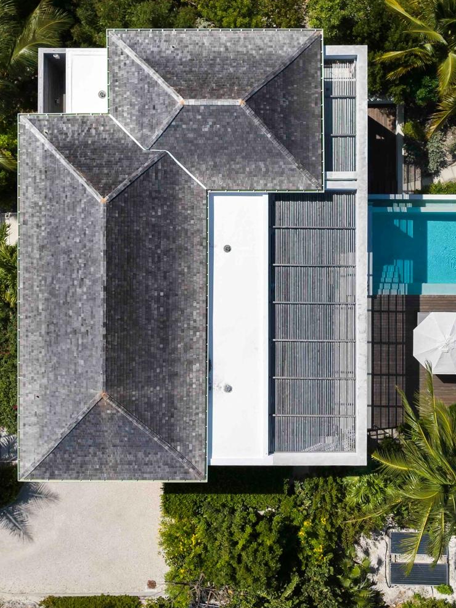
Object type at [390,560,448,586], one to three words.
solar panel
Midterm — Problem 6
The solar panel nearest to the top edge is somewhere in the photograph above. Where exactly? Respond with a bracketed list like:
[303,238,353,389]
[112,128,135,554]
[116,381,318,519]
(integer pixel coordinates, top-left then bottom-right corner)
[390,530,447,554]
